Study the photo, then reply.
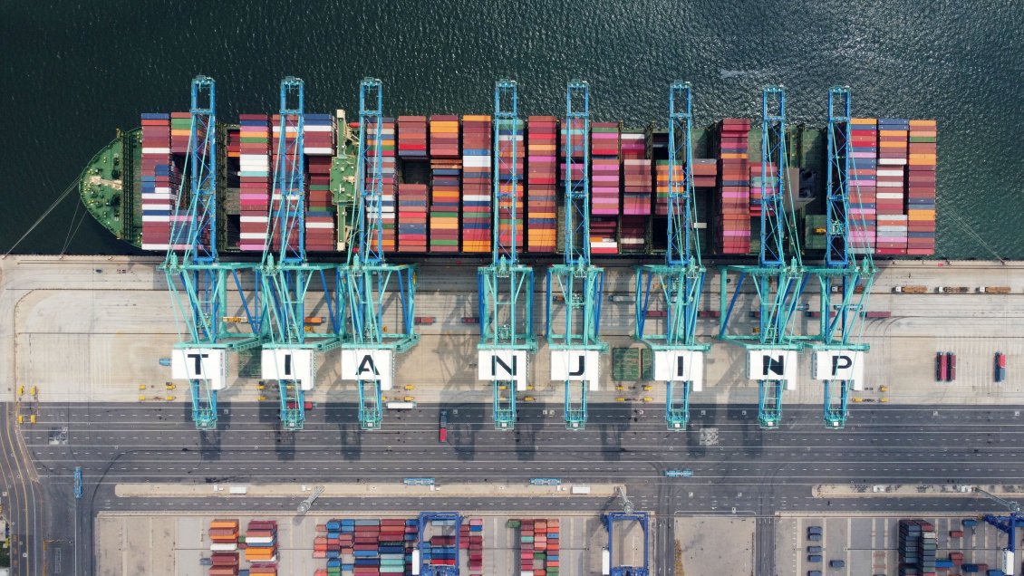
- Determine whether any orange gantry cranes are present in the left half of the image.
No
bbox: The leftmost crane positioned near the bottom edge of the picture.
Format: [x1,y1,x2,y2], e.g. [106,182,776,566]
[412,511,467,576]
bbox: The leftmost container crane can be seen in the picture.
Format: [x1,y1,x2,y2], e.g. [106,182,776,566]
[157,74,281,429]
